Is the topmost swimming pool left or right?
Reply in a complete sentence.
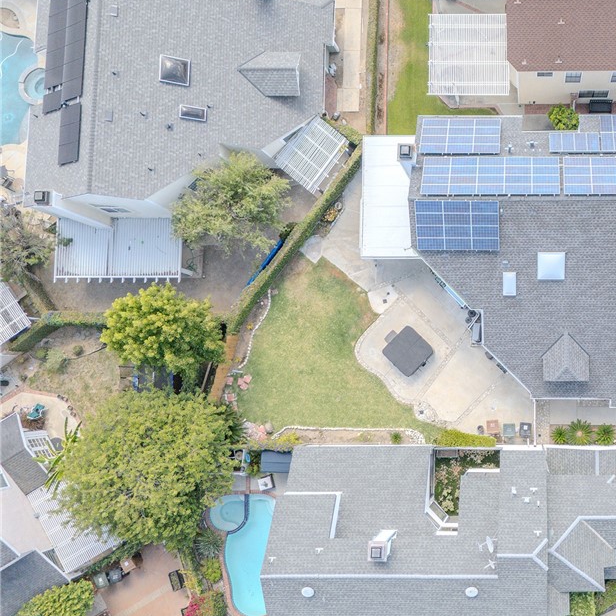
You can find the topmost swimming pool on the left side of the picture.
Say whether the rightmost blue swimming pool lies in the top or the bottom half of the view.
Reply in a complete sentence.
Seen from above, the rightmost blue swimming pool lies in the bottom half of the view.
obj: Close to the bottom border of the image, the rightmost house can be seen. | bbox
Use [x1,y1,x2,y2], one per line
[260,444,616,616]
